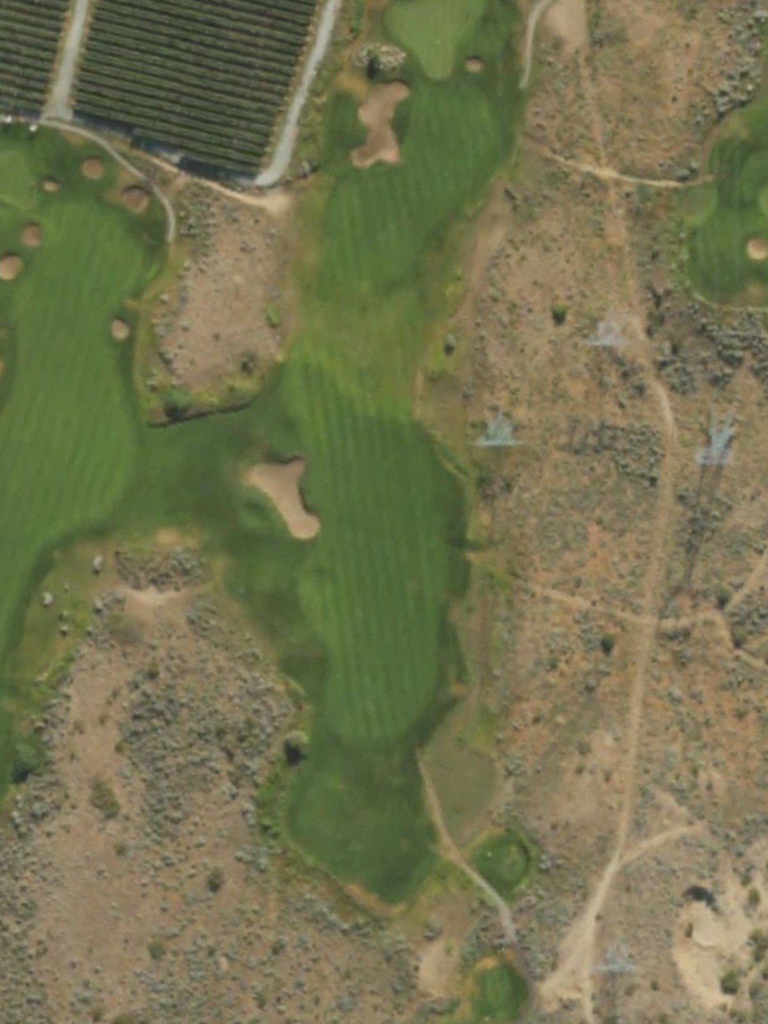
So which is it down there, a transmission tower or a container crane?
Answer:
transmission tower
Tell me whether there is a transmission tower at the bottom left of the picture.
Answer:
No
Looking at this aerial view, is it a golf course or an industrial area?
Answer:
golf course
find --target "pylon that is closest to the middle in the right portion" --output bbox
[476,399,524,450]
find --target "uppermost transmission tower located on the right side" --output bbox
[589,298,637,348]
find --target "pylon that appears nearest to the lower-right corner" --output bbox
[594,923,641,979]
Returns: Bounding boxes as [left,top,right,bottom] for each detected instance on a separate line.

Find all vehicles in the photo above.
[4,114,12,121]
[29,122,37,130]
